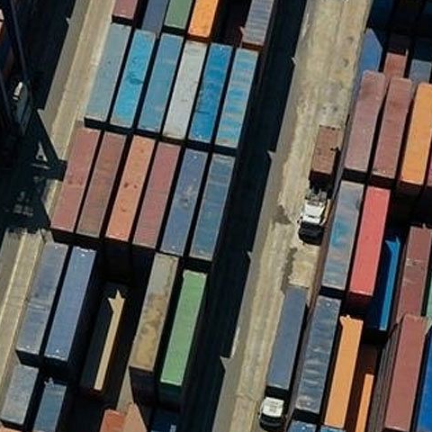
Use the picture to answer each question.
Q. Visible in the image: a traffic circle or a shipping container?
shipping container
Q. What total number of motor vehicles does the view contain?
2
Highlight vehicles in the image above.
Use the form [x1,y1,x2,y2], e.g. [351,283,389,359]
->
[256,377,282,428]
[295,178,324,240]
